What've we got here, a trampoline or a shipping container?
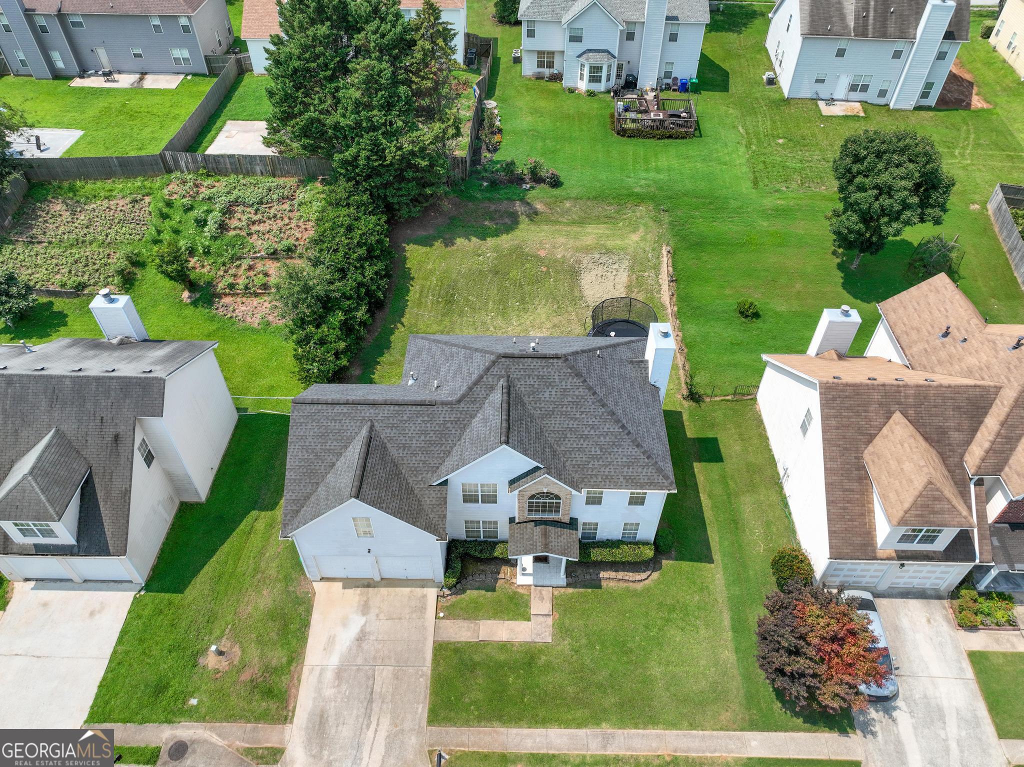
trampoline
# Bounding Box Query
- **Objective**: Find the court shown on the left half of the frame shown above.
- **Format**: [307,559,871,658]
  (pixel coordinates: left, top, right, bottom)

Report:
[0,129,84,159]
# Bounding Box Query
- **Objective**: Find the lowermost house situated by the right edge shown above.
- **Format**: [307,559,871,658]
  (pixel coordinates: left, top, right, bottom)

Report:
[756,273,1024,608]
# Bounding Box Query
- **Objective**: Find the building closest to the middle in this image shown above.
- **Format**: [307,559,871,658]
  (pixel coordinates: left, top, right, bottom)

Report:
[282,322,679,586]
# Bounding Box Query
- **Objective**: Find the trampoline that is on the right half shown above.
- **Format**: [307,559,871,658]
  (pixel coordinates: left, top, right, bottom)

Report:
[589,299,660,338]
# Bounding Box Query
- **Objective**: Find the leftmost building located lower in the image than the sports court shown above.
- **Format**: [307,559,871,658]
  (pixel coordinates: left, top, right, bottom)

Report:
[0,290,239,586]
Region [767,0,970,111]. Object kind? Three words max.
house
